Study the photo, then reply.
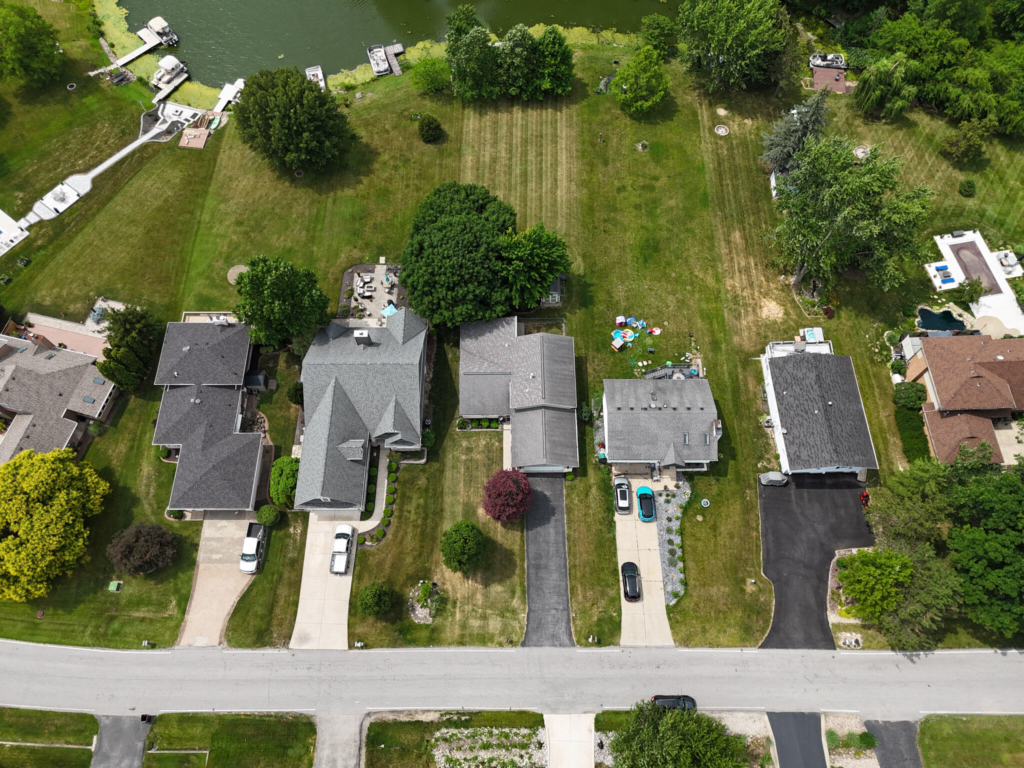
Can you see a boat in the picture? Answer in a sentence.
Yes, the photo shows a boat.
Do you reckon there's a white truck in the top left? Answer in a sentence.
No, no white truck appears in the top left.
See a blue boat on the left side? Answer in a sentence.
No, there's no blue boat to be seen on the left side.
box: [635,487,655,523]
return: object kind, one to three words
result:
car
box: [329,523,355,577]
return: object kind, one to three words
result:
truck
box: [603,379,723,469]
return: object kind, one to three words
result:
house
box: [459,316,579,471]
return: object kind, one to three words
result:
house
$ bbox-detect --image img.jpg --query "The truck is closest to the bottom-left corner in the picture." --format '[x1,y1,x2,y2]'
[240,521,267,575]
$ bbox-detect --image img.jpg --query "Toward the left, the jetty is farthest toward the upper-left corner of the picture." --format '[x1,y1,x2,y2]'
[115,27,163,69]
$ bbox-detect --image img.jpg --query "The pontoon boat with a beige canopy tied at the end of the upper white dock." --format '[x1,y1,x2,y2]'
[145,13,180,50]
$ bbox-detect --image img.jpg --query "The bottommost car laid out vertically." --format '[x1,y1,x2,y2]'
[620,560,642,605]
